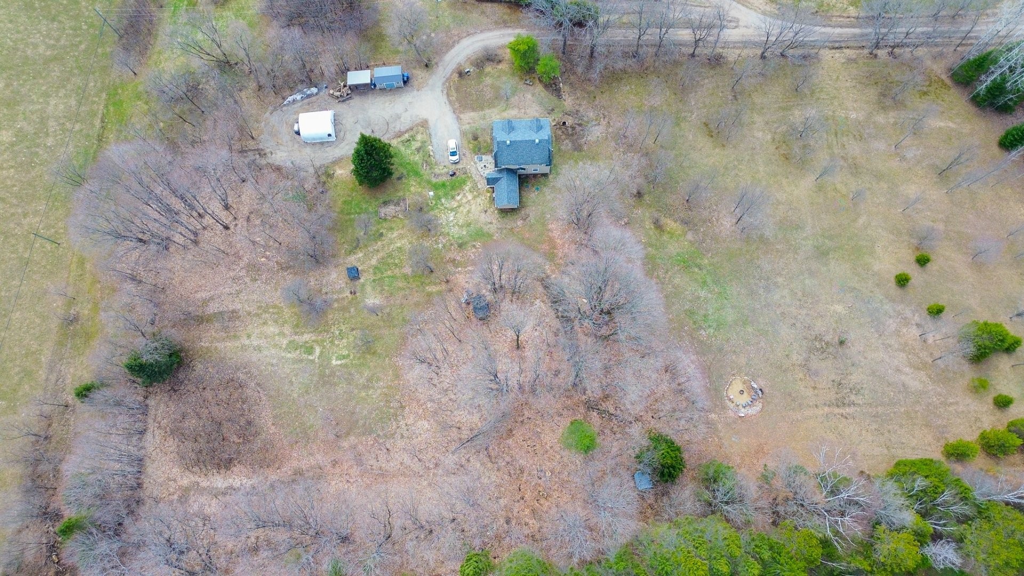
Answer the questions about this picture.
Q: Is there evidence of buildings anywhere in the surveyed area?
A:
Yes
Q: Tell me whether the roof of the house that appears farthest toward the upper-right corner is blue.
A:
Yes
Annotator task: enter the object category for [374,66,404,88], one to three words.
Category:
shed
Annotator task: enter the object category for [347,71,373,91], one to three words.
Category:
shed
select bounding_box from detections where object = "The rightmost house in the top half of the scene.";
[486,117,553,212]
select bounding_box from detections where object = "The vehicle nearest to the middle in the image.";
[448,139,460,164]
